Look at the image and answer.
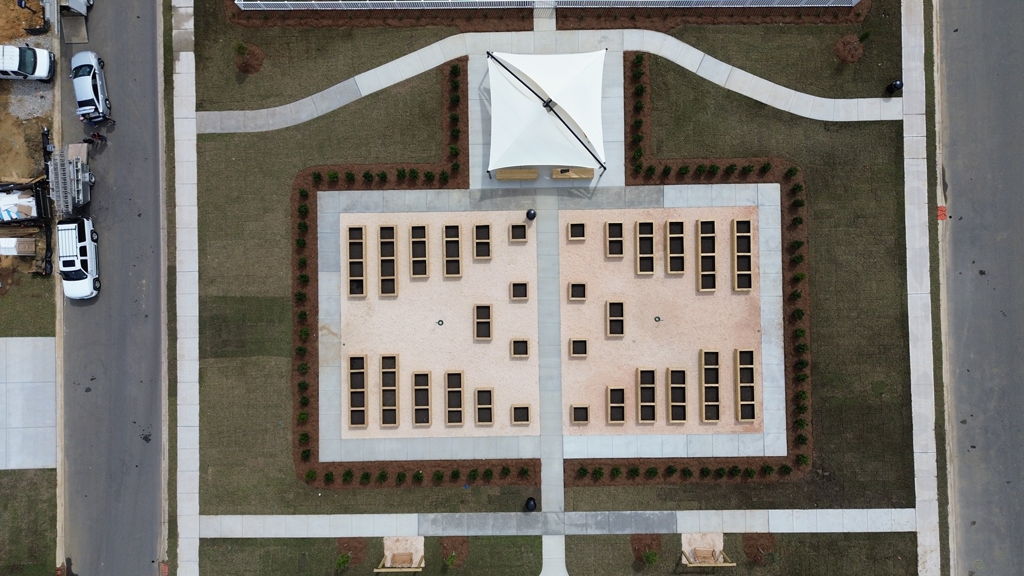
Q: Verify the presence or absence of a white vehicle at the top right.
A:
No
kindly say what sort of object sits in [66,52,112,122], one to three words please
car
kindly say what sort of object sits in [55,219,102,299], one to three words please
car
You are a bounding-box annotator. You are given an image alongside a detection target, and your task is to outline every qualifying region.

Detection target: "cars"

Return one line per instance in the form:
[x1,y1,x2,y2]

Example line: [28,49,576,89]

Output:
[0,42,58,84]
[66,52,112,122]
[55,219,102,299]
